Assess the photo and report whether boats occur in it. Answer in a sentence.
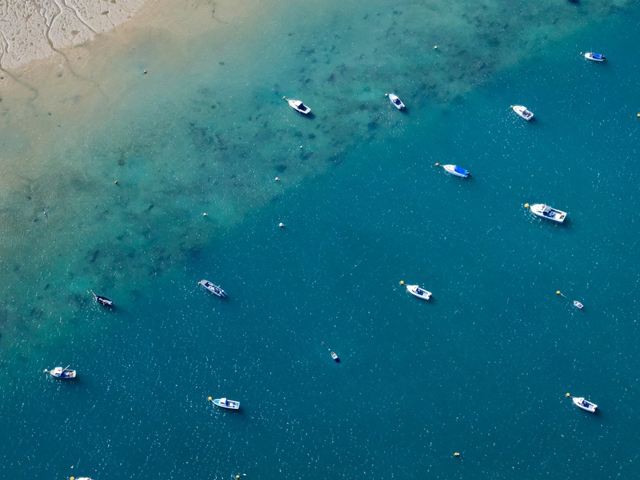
Yes, you can see a boat in this photo.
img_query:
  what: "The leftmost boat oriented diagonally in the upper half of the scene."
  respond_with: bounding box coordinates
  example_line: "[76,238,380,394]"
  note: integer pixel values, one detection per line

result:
[288,99,312,116]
